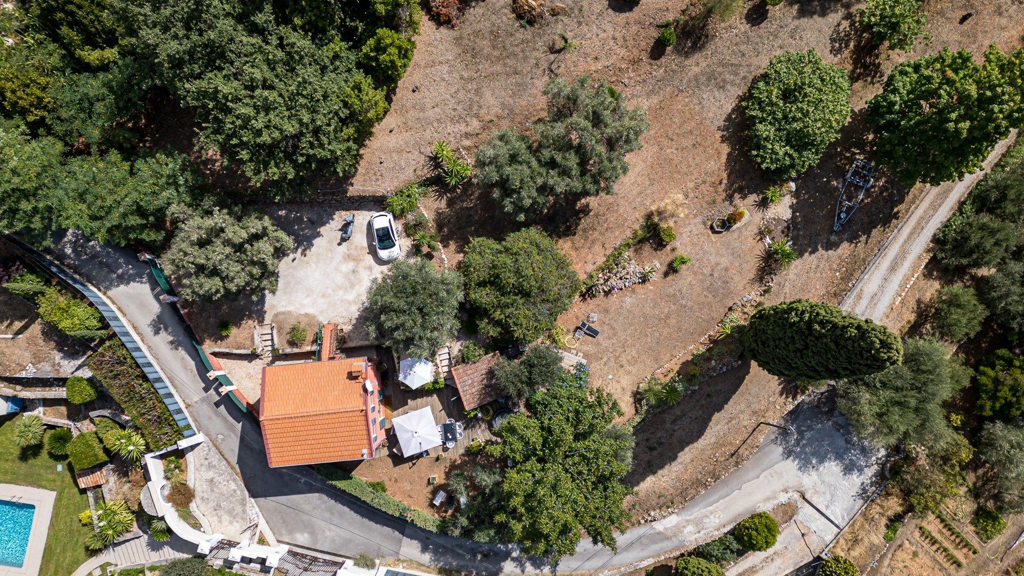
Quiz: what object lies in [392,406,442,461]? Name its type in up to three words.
umbrella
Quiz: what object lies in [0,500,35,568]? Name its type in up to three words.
swimming pool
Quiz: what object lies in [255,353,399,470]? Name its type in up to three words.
house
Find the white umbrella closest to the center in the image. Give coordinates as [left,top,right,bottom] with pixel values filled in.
[399,357,432,389]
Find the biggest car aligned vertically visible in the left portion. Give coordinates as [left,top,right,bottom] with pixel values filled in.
[371,211,403,264]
